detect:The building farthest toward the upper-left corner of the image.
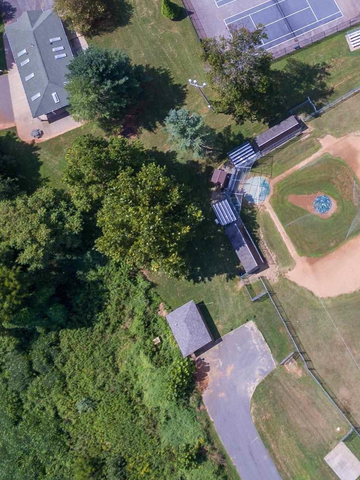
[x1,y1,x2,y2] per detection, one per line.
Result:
[5,9,82,121]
